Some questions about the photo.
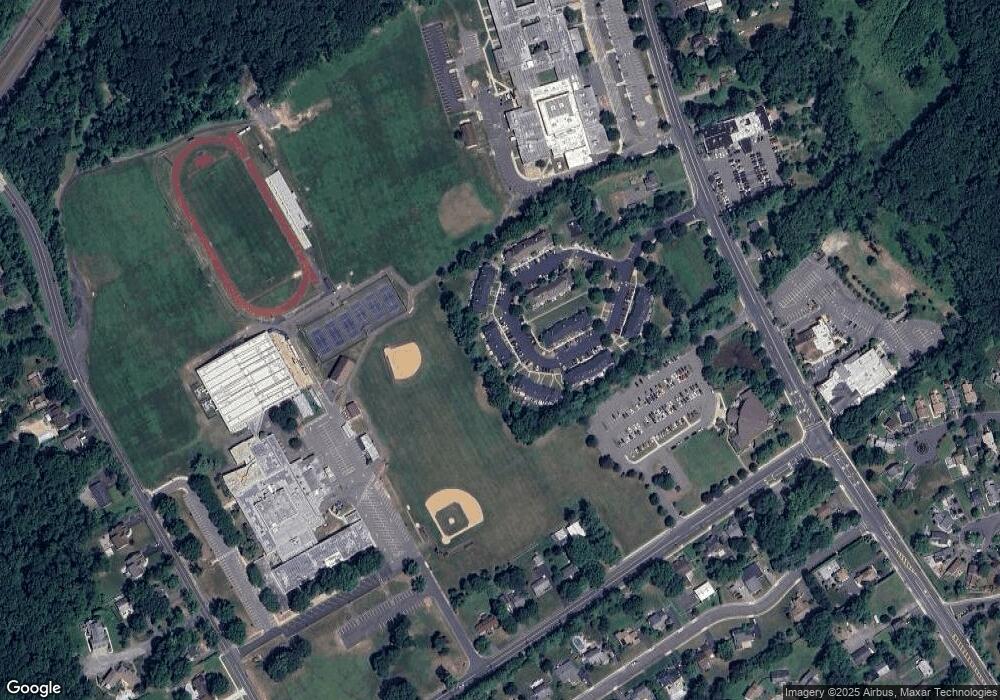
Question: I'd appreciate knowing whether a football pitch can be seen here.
Yes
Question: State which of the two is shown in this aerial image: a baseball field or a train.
baseball field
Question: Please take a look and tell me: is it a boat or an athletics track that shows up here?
athletics track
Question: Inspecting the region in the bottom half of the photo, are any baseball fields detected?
Yes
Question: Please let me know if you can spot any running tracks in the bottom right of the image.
No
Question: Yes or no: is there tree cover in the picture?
Yes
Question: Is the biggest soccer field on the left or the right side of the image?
left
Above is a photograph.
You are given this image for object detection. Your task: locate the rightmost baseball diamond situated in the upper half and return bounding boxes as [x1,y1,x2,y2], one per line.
[440,184,497,235]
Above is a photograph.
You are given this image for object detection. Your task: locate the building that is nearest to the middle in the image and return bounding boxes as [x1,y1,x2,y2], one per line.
[483,320,515,367]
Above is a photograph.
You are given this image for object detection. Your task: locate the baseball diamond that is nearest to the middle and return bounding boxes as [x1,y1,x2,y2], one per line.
[382,340,423,381]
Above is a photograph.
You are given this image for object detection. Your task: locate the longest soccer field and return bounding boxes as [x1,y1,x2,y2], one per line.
[181,144,300,308]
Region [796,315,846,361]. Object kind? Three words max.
building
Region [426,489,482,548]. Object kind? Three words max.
baseball field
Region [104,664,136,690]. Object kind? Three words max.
house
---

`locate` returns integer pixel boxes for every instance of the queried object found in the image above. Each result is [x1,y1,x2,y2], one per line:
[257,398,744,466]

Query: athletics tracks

[171,132,318,317]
